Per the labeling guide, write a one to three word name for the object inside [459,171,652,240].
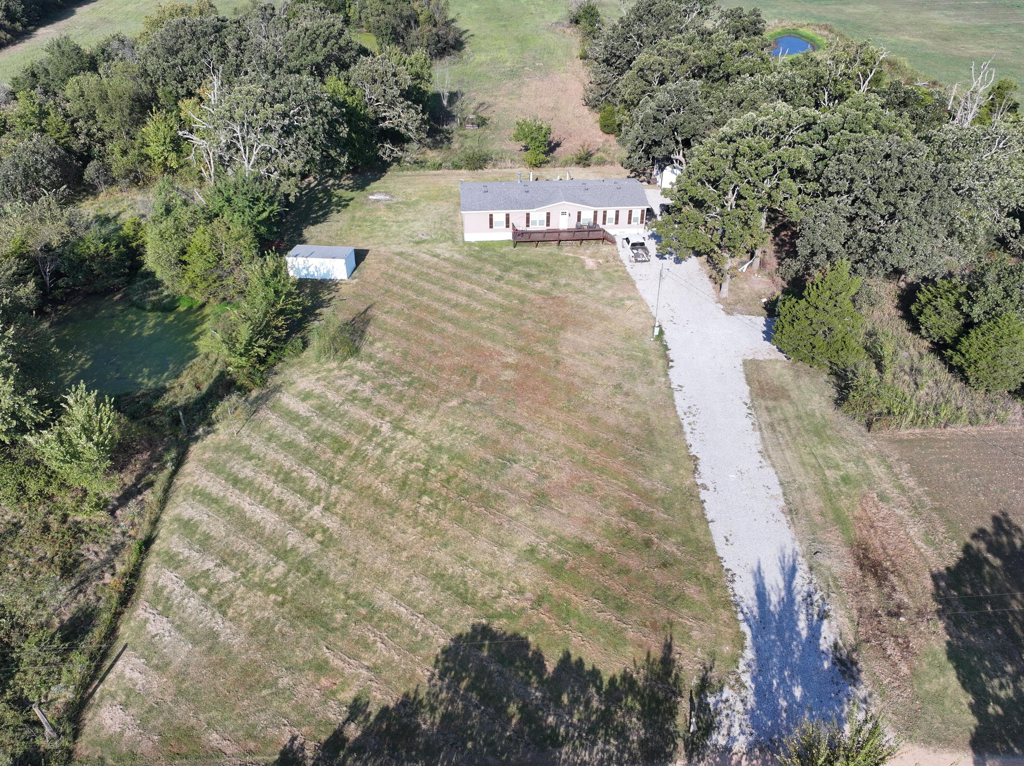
house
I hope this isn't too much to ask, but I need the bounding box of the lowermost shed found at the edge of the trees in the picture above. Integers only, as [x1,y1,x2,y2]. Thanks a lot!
[284,245,354,280]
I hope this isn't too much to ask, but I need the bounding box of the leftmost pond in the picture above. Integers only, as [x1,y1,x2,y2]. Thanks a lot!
[27,290,216,405]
